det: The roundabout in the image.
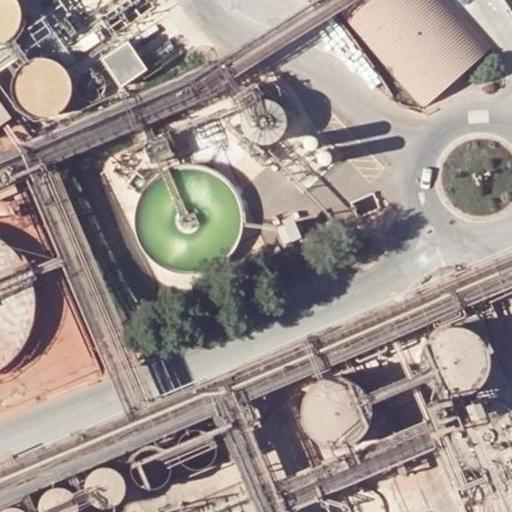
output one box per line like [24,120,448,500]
[436,133,512,220]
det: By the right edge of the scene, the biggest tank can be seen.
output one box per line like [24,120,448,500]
[421,328,496,400]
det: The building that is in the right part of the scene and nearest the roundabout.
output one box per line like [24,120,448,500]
[342,0,490,107]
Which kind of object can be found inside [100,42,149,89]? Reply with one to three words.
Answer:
building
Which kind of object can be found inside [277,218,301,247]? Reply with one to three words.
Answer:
shed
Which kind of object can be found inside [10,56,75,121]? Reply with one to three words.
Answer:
storage tank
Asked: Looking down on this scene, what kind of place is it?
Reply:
industrial area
